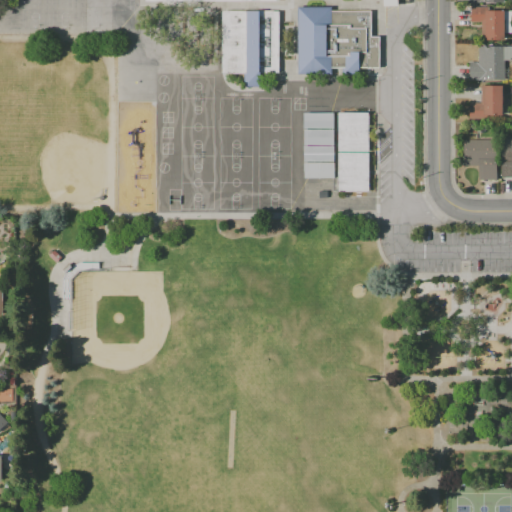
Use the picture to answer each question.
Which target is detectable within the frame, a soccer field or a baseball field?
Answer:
baseball field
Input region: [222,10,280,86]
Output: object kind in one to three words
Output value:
building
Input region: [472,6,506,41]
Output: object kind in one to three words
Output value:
house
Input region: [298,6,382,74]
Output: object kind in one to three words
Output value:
building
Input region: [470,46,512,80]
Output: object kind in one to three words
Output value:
house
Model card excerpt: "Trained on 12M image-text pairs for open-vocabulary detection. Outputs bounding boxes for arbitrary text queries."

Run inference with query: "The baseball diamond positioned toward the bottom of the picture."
[72,270,170,369]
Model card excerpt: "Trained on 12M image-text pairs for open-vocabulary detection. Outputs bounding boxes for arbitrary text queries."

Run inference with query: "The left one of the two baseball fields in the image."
[0,42,110,205]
